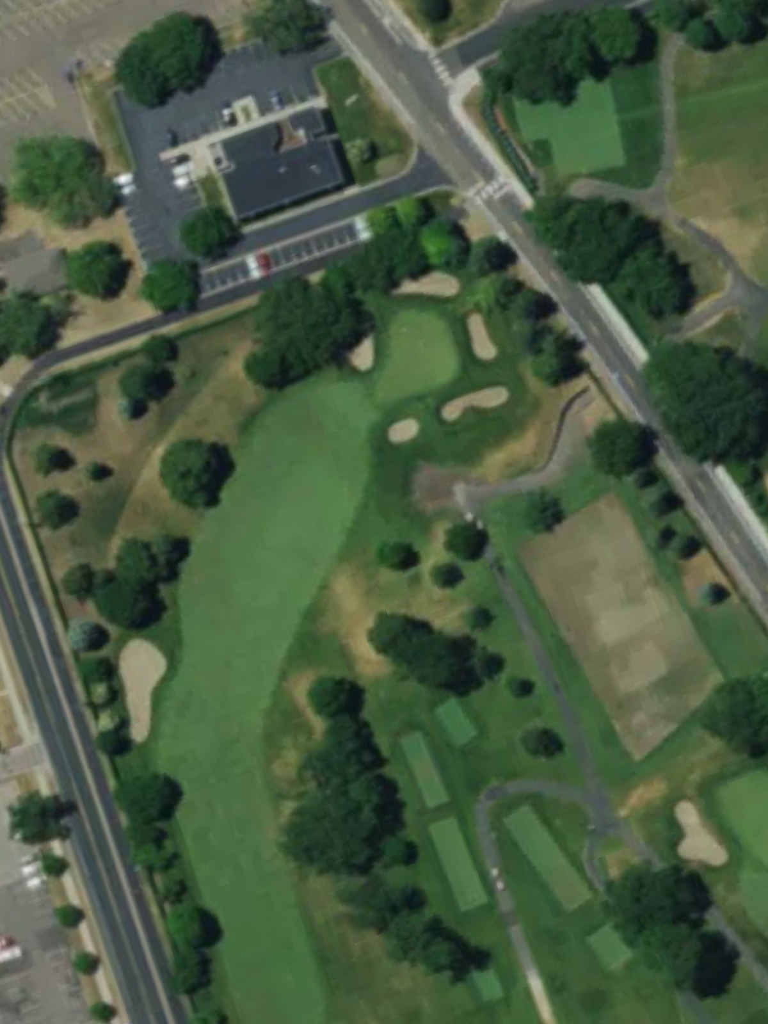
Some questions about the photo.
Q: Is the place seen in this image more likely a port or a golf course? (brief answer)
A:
golf course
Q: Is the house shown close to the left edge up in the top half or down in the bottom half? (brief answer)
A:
top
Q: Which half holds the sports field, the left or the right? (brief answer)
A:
right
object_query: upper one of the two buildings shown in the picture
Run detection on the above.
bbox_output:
[208,105,343,217]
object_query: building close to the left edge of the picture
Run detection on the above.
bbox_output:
[0,228,68,302]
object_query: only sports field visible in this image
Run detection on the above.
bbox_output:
[517,493,723,760]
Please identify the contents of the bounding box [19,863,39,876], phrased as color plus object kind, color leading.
white vehicle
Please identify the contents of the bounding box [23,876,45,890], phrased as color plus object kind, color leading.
white vehicle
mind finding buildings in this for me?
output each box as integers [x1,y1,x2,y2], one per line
[208,105,343,217]
[0,228,68,302]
